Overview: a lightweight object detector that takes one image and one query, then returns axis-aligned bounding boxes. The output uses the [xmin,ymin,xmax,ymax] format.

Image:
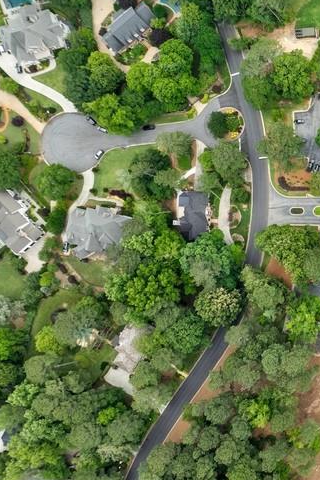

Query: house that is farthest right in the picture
[169,192,213,240]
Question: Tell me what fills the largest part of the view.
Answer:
trees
